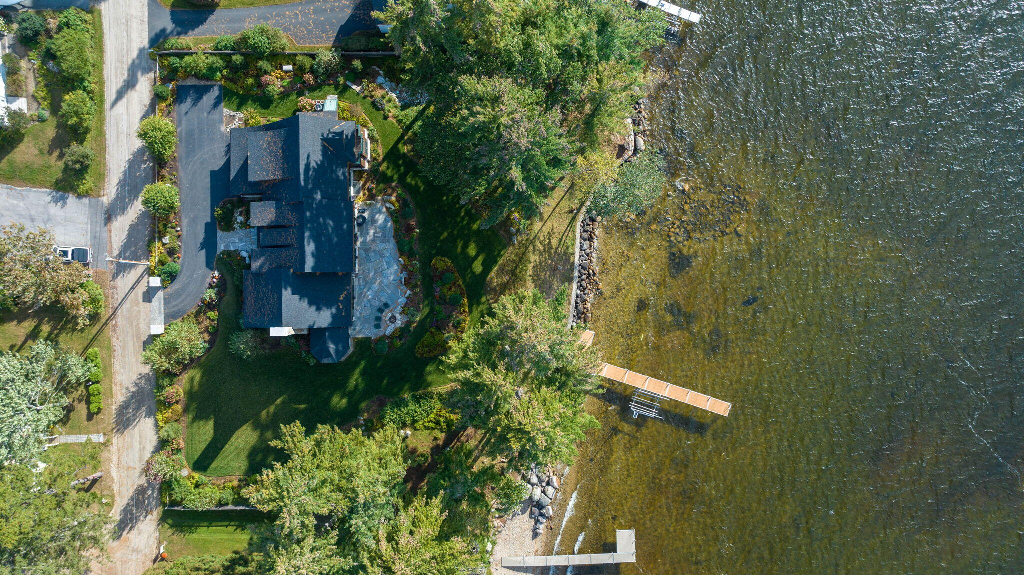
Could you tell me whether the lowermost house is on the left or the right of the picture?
left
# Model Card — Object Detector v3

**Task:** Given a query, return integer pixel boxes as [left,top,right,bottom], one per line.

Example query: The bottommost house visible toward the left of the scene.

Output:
[230,110,374,366]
